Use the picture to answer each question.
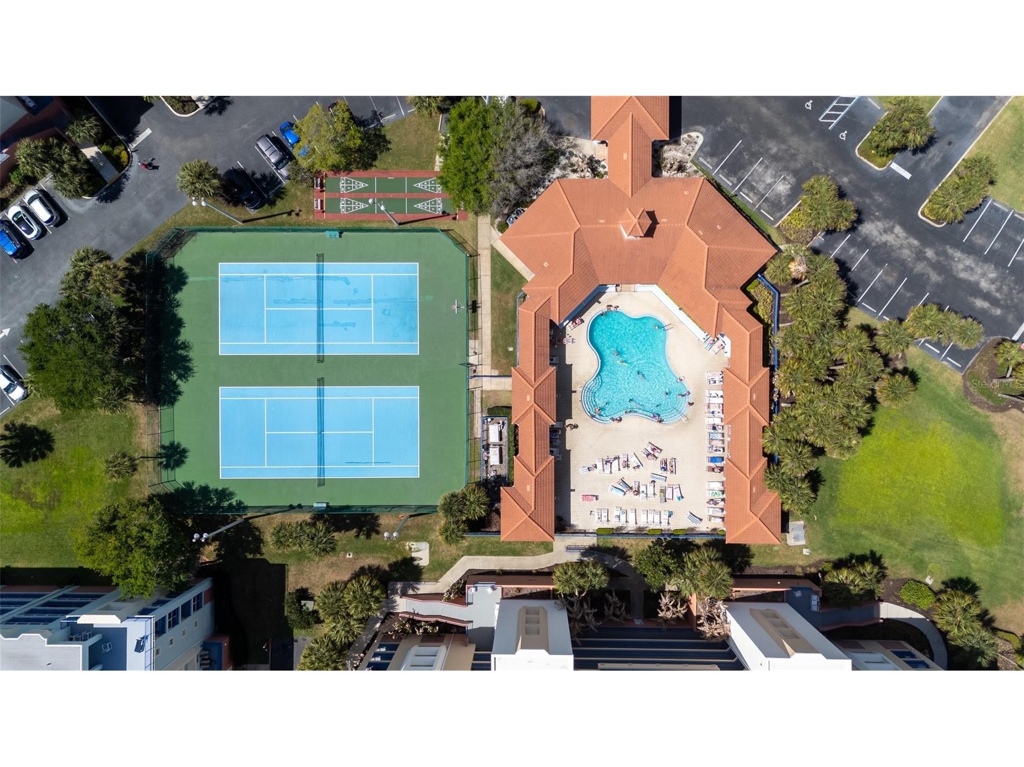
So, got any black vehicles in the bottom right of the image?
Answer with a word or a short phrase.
No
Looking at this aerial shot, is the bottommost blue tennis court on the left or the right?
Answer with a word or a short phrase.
left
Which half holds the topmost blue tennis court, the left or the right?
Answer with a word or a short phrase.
left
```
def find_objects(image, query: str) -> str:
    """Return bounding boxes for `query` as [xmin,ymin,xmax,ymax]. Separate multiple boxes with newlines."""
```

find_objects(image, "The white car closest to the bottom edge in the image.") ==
[0,365,24,403]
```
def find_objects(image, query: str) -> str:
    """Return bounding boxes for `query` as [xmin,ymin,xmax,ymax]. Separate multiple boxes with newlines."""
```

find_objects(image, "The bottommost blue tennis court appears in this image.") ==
[220,378,420,488]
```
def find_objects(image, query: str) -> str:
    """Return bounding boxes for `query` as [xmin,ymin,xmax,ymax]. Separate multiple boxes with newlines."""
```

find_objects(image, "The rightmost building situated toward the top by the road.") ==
[499,20,782,545]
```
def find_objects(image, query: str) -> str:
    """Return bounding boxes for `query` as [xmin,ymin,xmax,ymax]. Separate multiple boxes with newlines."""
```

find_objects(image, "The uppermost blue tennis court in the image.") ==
[219,253,419,363]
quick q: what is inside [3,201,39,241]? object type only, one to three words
car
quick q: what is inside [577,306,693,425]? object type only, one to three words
swimming pool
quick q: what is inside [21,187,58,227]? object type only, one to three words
car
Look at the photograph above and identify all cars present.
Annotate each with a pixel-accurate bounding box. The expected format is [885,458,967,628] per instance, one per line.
[223,166,261,209]
[276,117,310,156]
[21,187,58,227]
[0,219,23,258]
[3,201,39,241]
[0,365,24,403]
[255,134,293,178]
